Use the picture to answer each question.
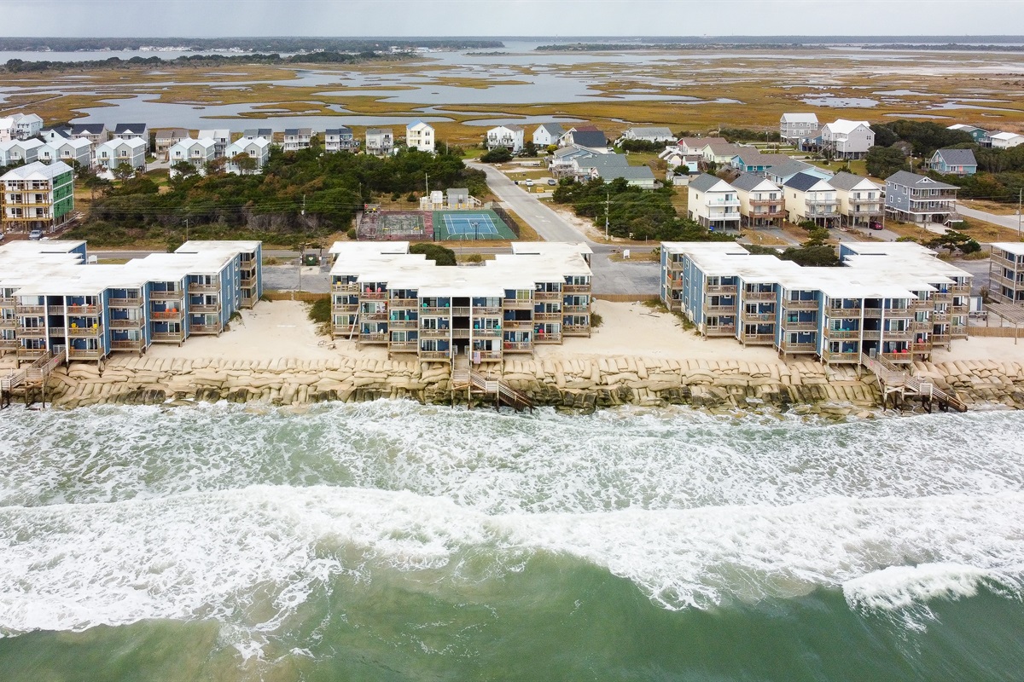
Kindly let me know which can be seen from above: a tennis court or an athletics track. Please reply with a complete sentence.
The one in the frame is a tennis court.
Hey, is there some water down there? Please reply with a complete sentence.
Yes, water shows up in the scene.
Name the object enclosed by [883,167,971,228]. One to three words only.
house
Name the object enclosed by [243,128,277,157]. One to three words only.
house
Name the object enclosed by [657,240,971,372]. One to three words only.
building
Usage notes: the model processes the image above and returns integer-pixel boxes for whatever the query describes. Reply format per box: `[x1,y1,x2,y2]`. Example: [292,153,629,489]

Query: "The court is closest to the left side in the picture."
[358,210,433,240]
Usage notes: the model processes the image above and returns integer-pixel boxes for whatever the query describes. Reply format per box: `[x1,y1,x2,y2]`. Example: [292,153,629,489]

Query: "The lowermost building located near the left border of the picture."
[0,239,267,371]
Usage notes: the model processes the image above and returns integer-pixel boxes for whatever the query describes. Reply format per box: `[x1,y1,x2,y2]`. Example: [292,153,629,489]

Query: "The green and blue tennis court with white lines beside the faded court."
[434,209,519,240]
